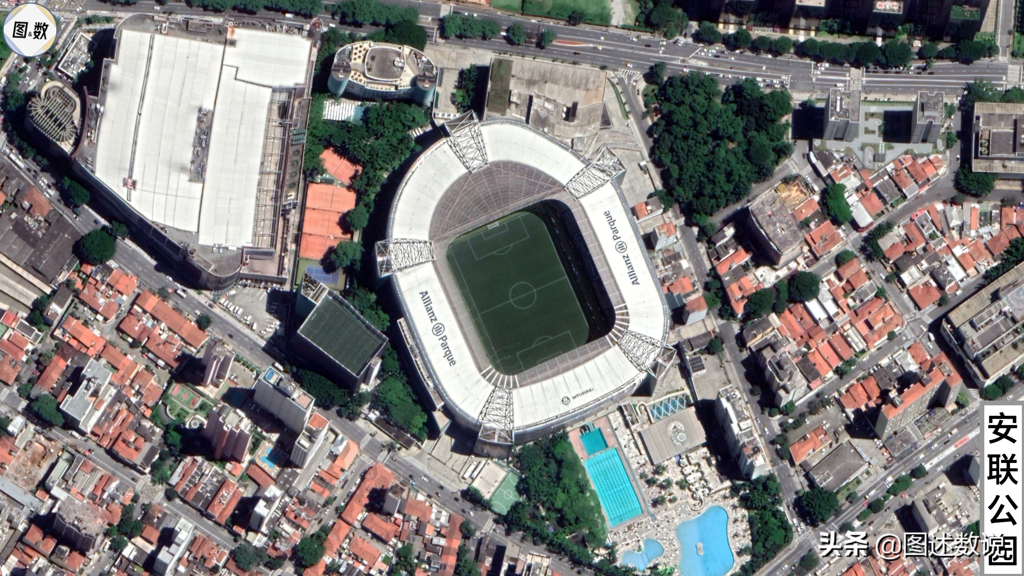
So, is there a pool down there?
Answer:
Yes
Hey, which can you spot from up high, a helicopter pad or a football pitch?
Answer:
football pitch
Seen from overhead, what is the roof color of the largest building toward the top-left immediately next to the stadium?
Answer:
white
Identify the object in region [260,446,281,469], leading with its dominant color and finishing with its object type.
blue swimming pool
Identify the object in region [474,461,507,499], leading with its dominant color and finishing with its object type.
white sports court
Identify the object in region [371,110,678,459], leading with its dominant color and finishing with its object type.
white stadium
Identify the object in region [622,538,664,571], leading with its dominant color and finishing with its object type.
blue swimming pool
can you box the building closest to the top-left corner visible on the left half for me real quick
[58,33,94,81]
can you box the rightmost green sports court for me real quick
[491,472,516,516]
